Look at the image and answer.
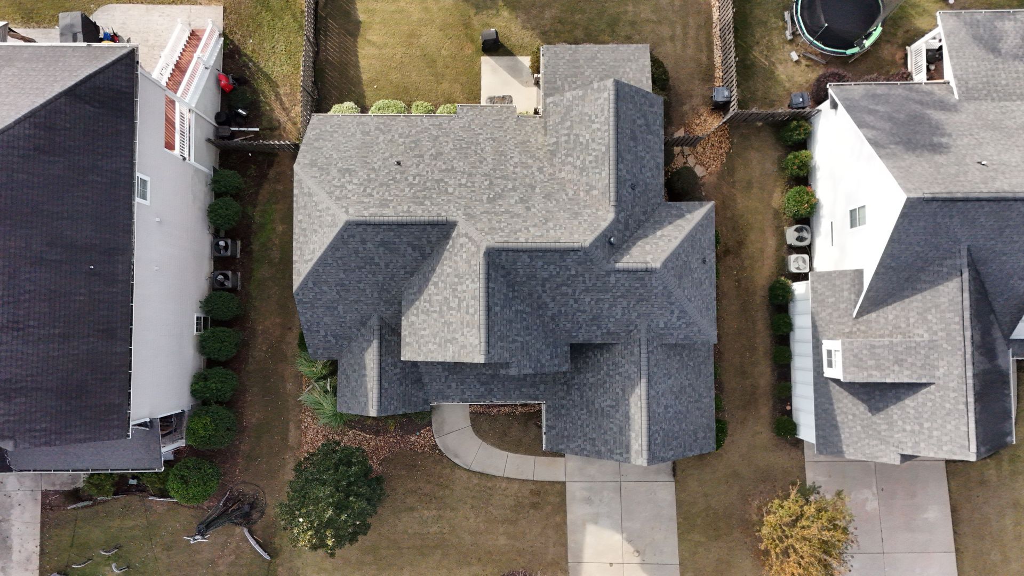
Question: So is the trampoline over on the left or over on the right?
right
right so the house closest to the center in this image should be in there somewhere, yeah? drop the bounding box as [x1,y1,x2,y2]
[291,45,716,464]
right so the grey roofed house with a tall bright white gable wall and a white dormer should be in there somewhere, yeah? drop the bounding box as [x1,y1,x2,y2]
[791,11,1024,465]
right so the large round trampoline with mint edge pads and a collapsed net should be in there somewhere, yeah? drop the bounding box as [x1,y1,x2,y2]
[790,0,907,64]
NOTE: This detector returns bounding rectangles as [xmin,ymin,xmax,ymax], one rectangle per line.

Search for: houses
[791,11,1024,465]
[291,45,716,464]
[0,44,220,475]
